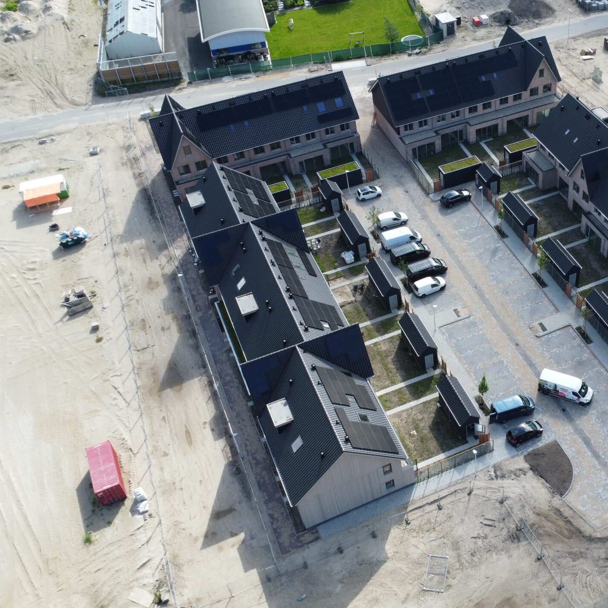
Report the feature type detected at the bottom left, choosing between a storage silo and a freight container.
freight container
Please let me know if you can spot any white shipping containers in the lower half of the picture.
No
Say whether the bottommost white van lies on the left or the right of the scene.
right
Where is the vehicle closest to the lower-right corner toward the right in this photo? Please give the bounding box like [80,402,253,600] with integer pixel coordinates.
[506,421,544,447]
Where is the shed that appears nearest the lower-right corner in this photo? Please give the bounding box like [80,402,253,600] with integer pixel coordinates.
[435,375,481,438]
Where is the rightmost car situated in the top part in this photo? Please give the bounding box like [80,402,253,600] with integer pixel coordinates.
[440,188,472,207]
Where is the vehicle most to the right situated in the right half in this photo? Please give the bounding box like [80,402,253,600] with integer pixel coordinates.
[542,369,594,405]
